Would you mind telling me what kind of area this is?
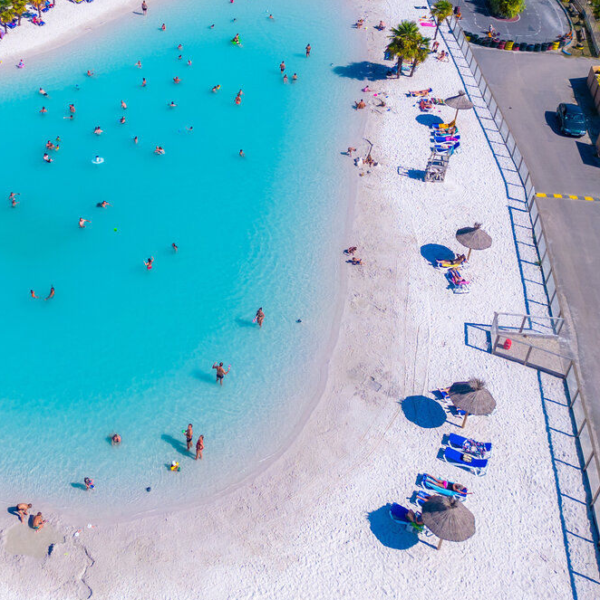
beach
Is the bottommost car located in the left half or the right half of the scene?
right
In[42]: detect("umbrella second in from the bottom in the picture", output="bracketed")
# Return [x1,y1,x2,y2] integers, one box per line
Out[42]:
[443,377,498,429]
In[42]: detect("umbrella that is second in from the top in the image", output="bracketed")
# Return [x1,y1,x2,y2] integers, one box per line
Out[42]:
[452,218,495,251]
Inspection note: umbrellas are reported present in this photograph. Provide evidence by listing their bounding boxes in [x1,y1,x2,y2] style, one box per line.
[445,87,478,115]
[452,218,495,251]
[419,496,481,552]
[443,377,498,429]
